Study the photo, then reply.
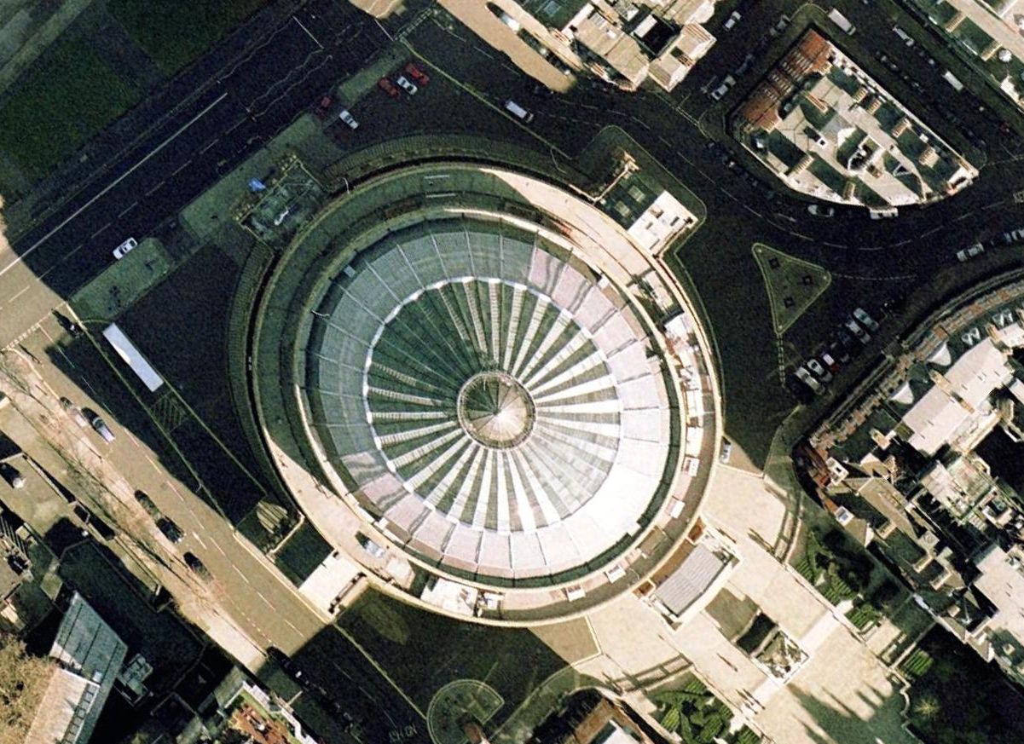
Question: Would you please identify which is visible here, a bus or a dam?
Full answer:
This aerial view contains a bus.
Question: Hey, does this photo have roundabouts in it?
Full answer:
No, there isn't any roundabout down there.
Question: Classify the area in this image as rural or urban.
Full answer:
From above, the setting appears urban.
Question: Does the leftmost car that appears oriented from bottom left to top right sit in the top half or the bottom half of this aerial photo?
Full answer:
You can find the leftmost car that appears oriented from bottom left to top right in the top half.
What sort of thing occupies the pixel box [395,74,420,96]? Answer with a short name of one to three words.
car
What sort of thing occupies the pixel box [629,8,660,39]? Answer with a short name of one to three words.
shed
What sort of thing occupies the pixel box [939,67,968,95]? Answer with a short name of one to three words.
van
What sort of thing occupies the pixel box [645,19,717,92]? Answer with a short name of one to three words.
house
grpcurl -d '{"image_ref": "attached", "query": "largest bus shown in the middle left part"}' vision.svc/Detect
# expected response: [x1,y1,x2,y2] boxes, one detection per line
[100,320,168,393]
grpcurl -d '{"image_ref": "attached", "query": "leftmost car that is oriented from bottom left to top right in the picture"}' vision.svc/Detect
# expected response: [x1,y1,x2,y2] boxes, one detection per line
[112,237,139,259]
